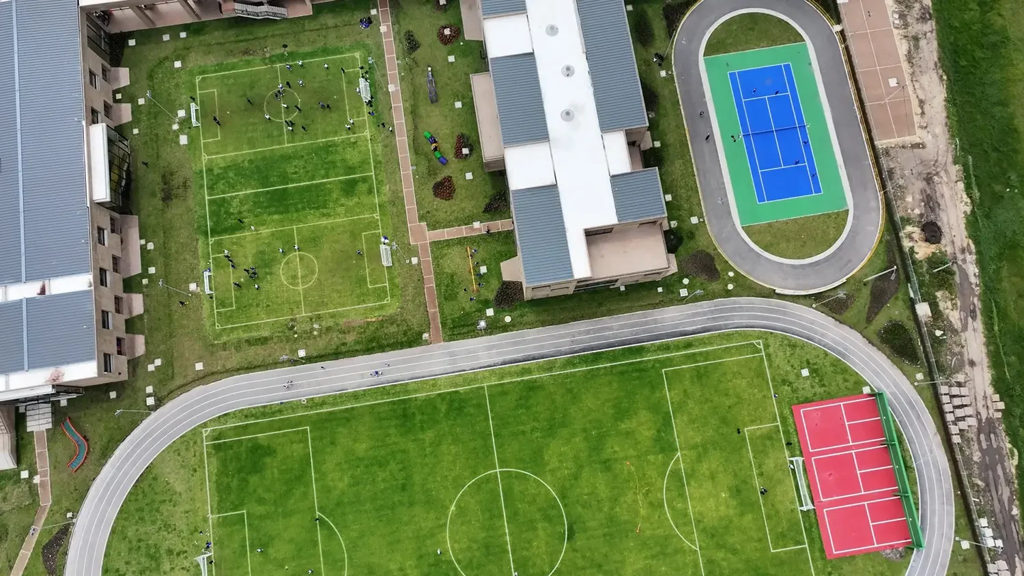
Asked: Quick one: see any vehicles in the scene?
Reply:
No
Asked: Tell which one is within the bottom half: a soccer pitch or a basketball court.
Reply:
soccer pitch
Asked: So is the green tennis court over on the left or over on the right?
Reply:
right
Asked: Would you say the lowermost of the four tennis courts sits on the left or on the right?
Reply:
right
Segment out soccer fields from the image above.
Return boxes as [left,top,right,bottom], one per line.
[201,339,814,576]
[196,53,369,158]
[209,214,390,329]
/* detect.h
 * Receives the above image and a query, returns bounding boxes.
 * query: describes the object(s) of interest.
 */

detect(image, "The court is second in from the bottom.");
[804,443,900,506]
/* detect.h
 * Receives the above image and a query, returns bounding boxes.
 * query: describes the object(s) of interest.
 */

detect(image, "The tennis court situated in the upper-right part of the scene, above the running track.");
[704,41,849,226]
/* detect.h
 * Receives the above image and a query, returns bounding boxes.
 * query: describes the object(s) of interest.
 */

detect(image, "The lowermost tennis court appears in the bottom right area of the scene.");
[815,494,914,559]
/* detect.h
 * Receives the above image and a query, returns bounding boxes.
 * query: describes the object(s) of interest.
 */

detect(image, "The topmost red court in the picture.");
[792,392,888,456]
